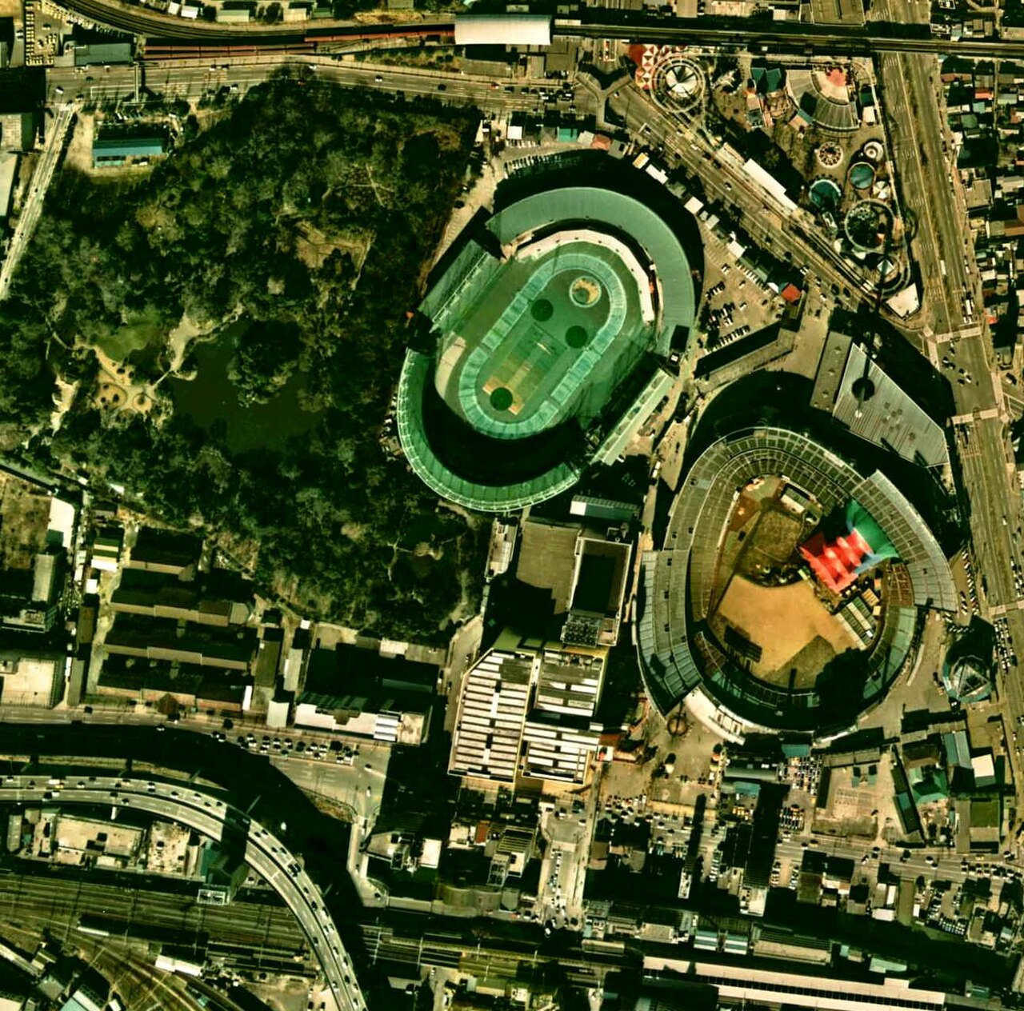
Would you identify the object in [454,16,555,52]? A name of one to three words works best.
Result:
shed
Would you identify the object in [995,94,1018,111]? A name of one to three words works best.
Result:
house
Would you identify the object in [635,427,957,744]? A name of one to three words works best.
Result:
stadium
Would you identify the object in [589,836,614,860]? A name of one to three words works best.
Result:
building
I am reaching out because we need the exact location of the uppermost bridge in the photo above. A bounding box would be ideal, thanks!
[552,24,1024,60]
